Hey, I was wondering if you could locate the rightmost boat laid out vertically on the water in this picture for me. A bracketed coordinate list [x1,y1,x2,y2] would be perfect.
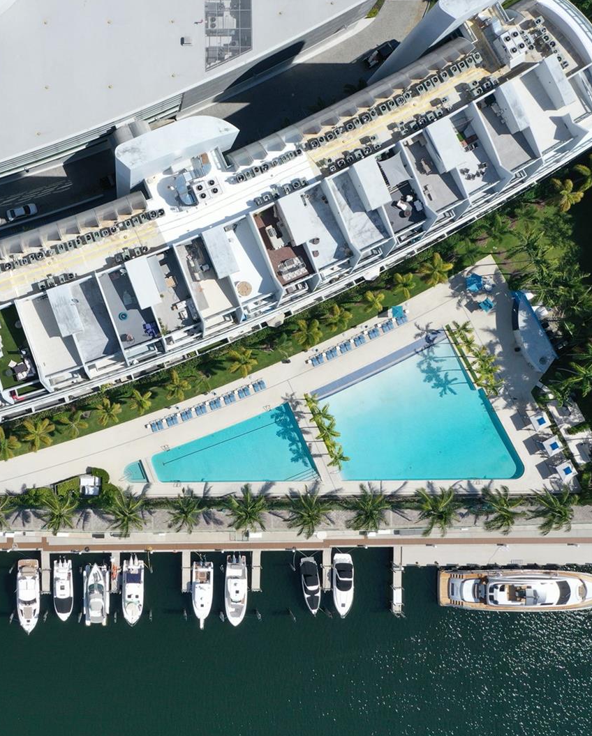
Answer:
[333,554,354,619]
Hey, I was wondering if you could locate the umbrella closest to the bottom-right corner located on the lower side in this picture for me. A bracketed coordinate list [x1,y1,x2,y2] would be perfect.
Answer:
[555,460,576,482]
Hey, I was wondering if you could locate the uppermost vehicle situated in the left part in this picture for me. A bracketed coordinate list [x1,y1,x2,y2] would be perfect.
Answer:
[90,171,117,196]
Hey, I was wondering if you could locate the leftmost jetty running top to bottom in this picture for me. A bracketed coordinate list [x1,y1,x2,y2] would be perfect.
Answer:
[38,552,53,595]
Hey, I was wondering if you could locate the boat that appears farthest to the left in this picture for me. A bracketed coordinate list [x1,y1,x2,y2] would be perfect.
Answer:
[16,559,40,636]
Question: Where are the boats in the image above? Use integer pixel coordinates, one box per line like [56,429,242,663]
[16,559,40,636]
[333,554,354,619]
[192,554,214,629]
[300,557,321,617]
[122,557,144,626]
[86,563,106,624]
[225,553,247,627]
[53,558,74,622]
[434,568,592,612]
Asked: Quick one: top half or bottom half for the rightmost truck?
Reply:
top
